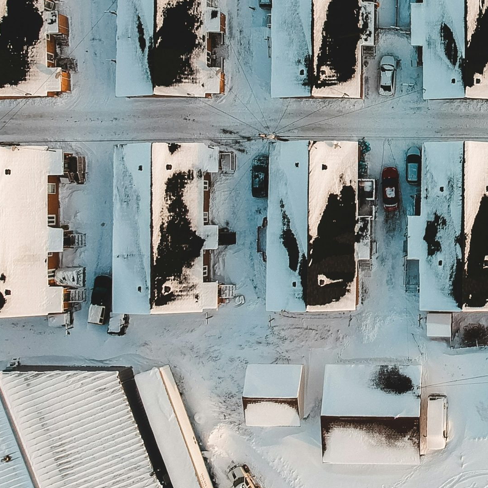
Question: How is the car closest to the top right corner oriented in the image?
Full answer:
I'd say the car closest to the top right corner is aligned up and down in the picture.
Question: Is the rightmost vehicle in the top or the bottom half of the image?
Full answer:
It is in the bottom half that the rightmost vehicle appears.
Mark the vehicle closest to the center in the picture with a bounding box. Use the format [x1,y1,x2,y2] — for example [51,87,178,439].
[248,155,267,198]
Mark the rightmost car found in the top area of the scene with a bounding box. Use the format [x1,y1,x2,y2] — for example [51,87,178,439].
[404,146,422,185]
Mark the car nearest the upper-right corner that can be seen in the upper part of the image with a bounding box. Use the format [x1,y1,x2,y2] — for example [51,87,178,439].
[377,55,397,97]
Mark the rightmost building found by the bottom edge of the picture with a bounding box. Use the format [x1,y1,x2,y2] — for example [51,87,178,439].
[320,362,423,465]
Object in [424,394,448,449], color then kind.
white vehicle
